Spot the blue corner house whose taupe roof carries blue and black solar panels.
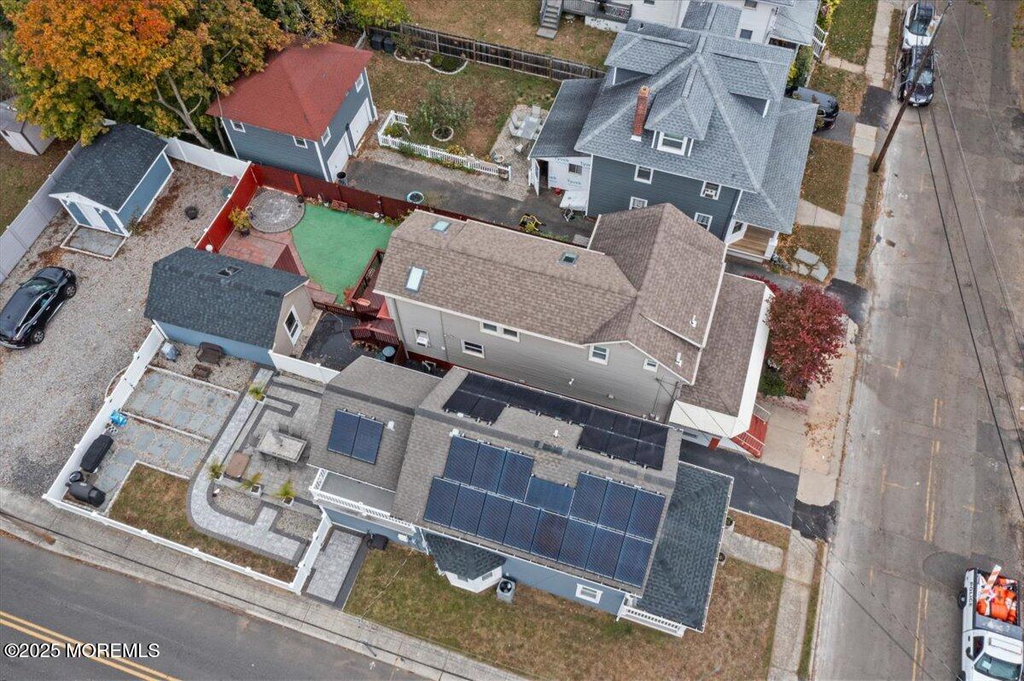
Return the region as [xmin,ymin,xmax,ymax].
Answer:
[299,355,736,641]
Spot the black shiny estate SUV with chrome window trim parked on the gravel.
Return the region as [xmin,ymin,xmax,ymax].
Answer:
[0,265,78,353]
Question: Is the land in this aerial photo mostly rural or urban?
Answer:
urban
